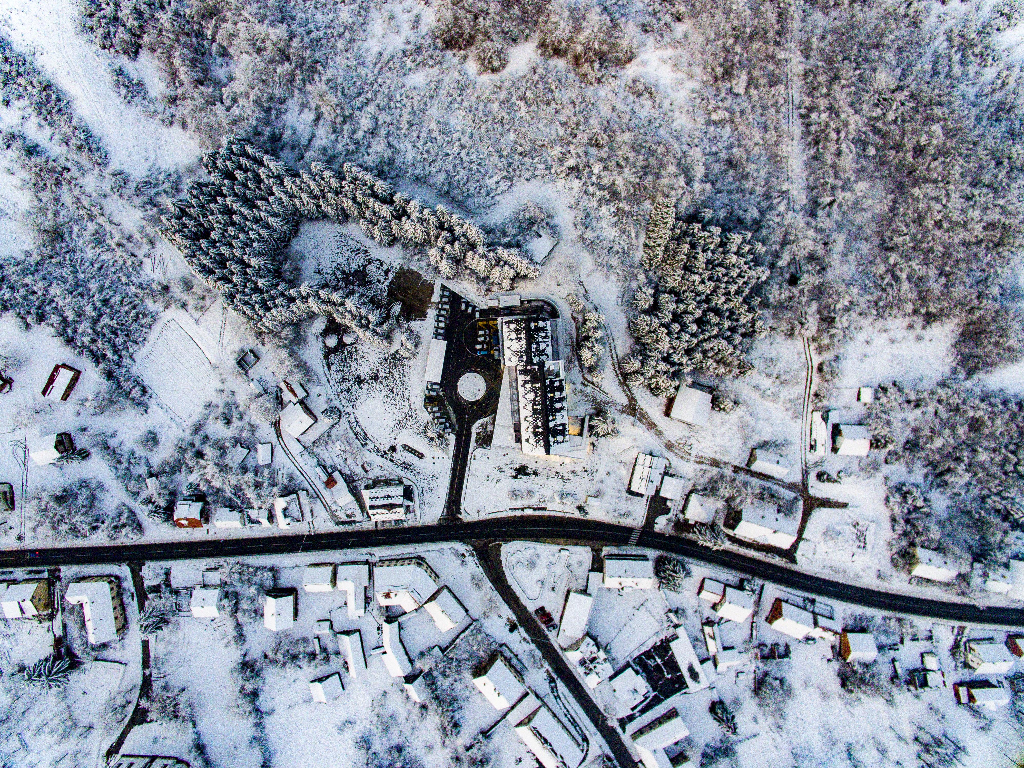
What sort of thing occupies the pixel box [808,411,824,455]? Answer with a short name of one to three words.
barn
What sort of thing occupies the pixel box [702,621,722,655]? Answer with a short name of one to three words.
building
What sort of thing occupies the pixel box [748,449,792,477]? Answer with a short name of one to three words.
house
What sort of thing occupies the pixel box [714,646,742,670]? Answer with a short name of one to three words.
shed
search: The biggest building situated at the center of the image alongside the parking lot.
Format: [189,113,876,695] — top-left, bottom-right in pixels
[492,316,569,454]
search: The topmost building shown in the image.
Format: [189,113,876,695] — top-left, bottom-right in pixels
[524,232,556,263]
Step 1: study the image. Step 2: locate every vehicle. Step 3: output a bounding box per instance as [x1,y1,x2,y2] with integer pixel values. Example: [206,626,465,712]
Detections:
[428,406,439,412]
[424,397,435,403]
[475,307,480,319]
[428,384,439,389]
[534,606,545,614]
[426,390,437,396]
[467,302,474,314]
[439,290,451,296]
[430,412,441,417]
[435,418,446,423]
[478,336,489,341]
[543,616,555,625]
[494,347,499,360]
[438,304,450,309]
[434,322,445,327]
[547,623,558,631]
[461,299,466,310]
[433,328,445,333]
[433,334,444,340]
[442,427,454,433]
[436,309,447,315]
[434,316,446,321]
[478,330,489,335]
[440,422,451,428]
[540,611,552,619]
[475,344,486,349]
[477,350,488,356]
[438,297,449,302]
